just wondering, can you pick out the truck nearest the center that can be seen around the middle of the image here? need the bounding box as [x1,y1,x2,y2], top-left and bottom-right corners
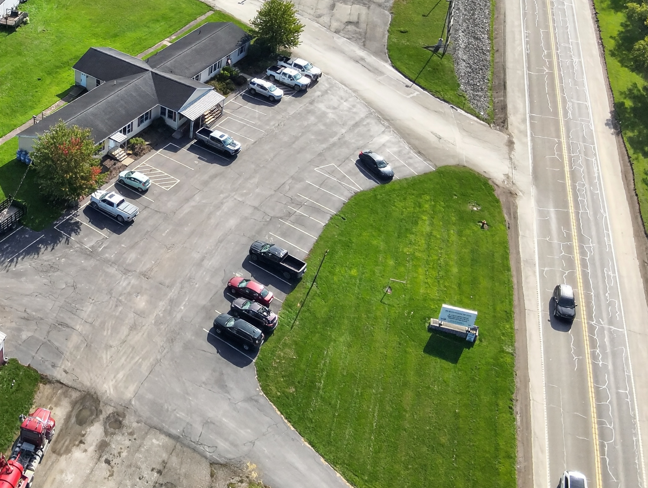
[247,246,310,283]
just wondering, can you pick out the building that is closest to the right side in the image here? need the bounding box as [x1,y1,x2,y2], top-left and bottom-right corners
[16,21,252,156]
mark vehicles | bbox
[354,152,396,183]
[263,63,310,91]
[0,197,31,236]
[549,281,579,328]
[115,169,154,194]
[556,468,586,488]
[211,319,267,354]
[246,75,284,102]
[13,402,66,488]
[192,125,244,158]
[247,246,310,283]
[224,280,279,309]
[276,53,322,79]
[227,301,282,335]
[87,193,142,228]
